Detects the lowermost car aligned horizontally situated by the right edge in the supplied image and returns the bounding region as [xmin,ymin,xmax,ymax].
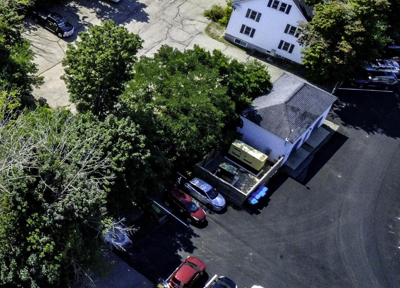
[350,71,397,92]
